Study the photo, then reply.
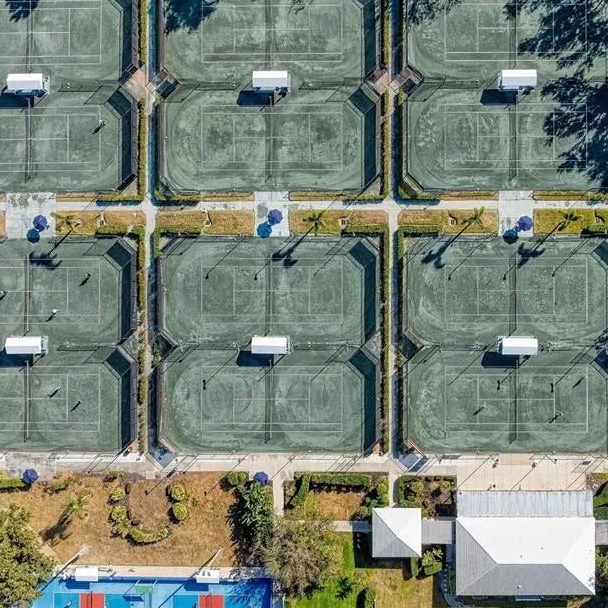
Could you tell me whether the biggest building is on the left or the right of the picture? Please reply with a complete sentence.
You can find the biggest building on the right side of the picture.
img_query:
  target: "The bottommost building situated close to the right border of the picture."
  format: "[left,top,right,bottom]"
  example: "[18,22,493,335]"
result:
[455,487,595,595]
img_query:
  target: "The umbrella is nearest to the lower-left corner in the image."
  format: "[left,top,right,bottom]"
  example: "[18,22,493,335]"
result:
[23,469,38,483]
